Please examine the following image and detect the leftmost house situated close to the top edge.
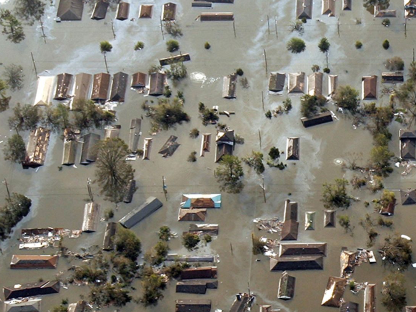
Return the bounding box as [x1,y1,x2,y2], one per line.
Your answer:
[55,0,84,20]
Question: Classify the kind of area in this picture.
residential area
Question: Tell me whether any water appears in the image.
Yes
